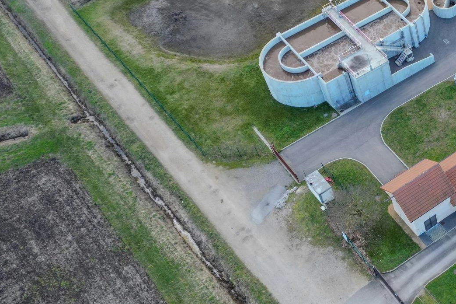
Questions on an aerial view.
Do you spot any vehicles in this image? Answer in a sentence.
No, the frame has no vehicle in it.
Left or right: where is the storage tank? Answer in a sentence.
The storage tank appears in the right half of the scene.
